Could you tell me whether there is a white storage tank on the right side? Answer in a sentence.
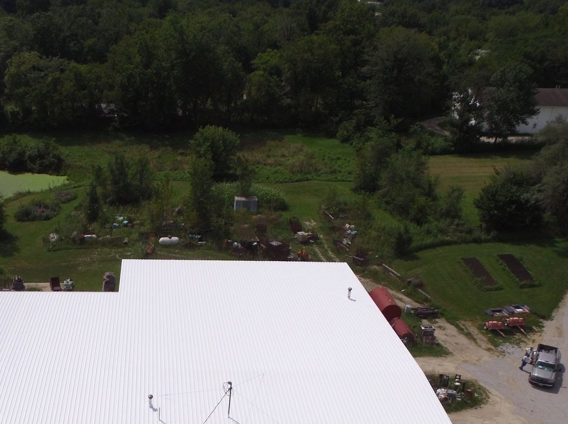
No, there's no white storage tank to be seen on the right side.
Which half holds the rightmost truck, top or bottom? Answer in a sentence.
You can find the rightmost truck in the bottom half.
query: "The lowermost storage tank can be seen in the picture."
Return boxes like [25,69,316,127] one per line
[389,311,419,346]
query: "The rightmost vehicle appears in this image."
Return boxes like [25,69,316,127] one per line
[523,340,568,384]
